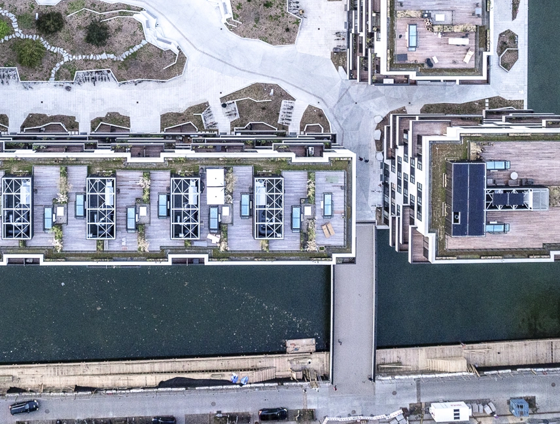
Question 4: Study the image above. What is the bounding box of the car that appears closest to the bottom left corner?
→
[10,402,37,418]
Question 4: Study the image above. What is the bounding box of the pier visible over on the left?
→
[0,349,329,387]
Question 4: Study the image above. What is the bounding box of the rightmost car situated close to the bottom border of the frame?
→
[260,410,287,424]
